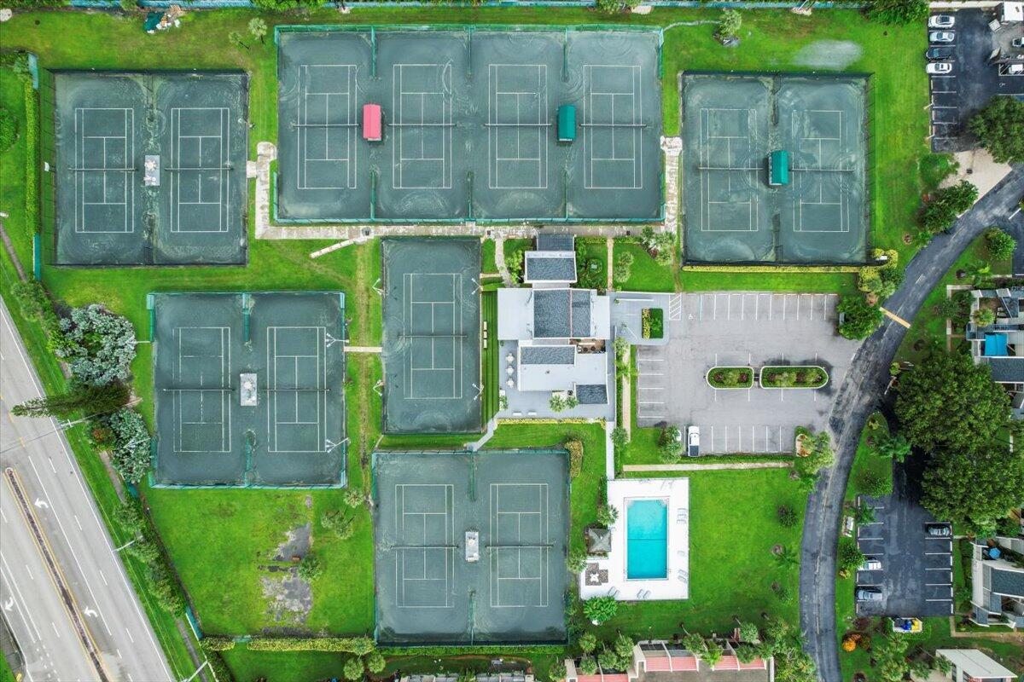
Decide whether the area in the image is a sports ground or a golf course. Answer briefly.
sports ground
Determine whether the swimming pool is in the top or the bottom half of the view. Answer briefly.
bottom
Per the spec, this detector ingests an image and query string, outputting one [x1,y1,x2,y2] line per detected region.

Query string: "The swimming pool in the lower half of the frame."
[579,478,689,602]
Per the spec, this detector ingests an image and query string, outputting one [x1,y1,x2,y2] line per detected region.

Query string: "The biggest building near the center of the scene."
[497,235,610,405]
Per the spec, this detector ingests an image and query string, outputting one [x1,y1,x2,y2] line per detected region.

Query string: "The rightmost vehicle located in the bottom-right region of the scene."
[925,524,951,536]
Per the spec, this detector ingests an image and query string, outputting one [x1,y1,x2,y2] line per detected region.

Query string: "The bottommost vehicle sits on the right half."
[856,588,883,601]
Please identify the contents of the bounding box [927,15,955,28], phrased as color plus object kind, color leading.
white vehicle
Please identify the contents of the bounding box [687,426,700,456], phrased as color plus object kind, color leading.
white vehicle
